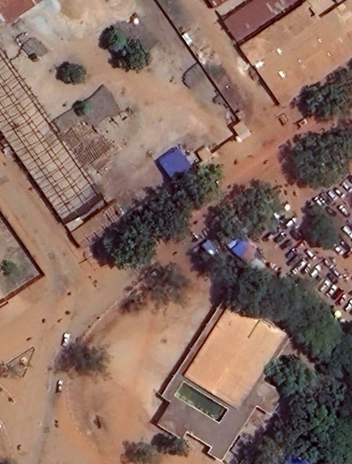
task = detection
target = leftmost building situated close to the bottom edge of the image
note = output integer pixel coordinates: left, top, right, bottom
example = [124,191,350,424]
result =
[157,301,290,461]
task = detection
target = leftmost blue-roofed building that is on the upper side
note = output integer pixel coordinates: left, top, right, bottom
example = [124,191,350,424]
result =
[160,147,190,177]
